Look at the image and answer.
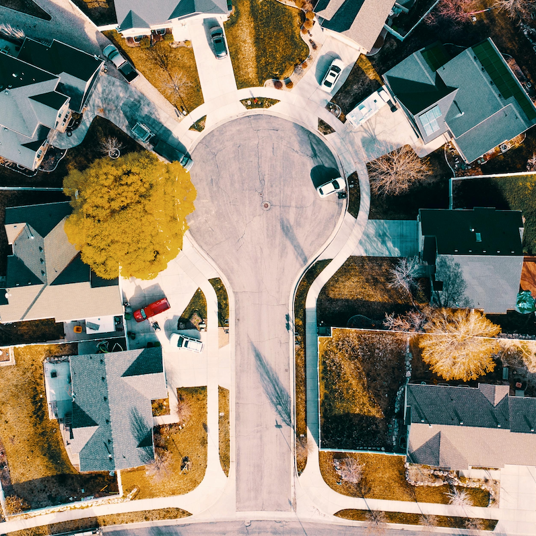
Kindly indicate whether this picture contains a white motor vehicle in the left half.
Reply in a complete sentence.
Yes, a white motor vehicle is visible in the left half.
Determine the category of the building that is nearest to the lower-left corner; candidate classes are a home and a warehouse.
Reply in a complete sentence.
The building that is nearest to the lower-left corner is a home.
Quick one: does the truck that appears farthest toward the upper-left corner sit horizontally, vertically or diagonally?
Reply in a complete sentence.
What the image shows is the truck that appears farthest toward the upper-left corner lying diagonally.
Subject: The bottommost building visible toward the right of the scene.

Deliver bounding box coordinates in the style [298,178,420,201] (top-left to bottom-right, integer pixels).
[404,383,536,468]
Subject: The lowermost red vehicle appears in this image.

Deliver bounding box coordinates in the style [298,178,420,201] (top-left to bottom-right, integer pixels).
[133,296,172,324]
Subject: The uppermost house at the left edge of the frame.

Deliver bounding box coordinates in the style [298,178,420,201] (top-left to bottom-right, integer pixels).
[0,36,106,169]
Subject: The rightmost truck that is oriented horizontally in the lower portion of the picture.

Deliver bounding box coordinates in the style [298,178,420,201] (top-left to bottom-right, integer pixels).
[168,332,206,355]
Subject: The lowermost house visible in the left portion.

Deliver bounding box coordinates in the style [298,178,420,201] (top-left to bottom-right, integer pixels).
[70,347,169,472]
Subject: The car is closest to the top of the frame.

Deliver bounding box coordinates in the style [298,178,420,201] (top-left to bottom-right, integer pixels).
[207,21,227,61]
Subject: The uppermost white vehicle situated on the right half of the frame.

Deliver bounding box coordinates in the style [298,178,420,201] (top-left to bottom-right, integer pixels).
[322,56,345,95]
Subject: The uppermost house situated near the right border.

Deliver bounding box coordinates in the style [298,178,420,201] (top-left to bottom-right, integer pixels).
[382,36,536,164]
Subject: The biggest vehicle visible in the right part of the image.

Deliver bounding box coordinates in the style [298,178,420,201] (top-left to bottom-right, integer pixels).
[345,91,386,131]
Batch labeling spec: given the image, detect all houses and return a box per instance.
[382,36,536,164]
[0,36,106,169]
[404,383,536,468]
[113,0,230,35]
[313,0,396,55]
[418,208,530,315]
[70,347,169,472]
[0,199,125,323]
